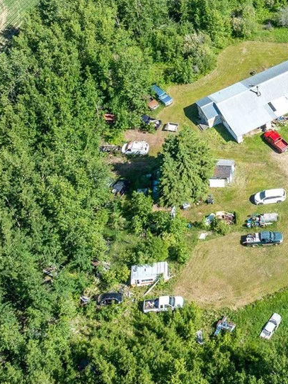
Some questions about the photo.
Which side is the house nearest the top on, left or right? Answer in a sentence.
The house nearest the top sits on the right side.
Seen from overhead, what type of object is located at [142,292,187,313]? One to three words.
truck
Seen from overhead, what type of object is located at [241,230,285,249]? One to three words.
vehicle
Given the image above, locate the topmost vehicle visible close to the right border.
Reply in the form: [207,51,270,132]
[259,129,288,155]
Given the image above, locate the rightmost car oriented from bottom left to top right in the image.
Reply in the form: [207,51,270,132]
[254,306,285,337]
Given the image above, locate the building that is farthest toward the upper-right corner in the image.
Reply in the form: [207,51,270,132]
[196,60,288,146]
